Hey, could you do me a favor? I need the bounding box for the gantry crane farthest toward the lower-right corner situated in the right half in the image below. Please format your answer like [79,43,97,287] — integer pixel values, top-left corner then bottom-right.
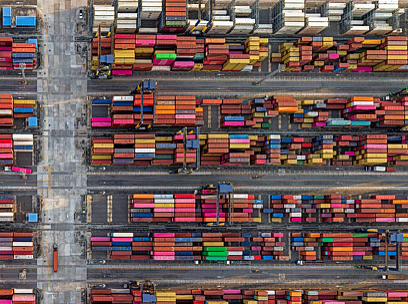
[361,225,403,269]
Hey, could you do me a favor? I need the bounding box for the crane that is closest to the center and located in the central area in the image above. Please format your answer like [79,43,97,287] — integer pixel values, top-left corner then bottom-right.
[172,125,201,173]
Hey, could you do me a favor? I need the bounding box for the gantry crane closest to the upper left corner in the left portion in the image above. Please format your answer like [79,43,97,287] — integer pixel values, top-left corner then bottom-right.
[91,23,115,77]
